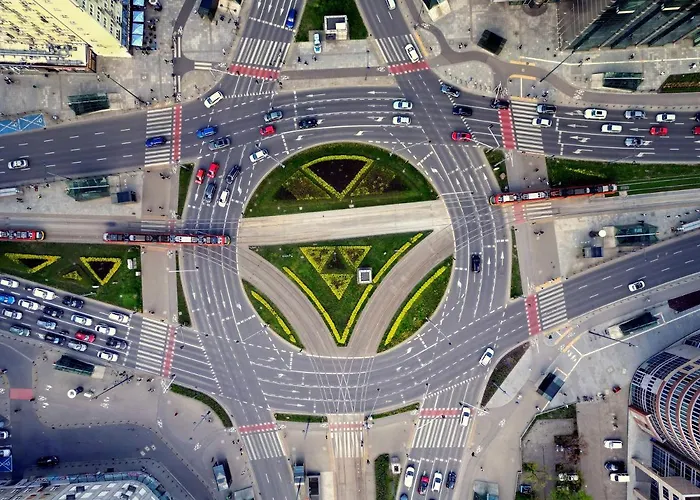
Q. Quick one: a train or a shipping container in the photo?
train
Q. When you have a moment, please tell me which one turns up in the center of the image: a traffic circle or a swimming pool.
traffic circle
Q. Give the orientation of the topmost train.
horizontally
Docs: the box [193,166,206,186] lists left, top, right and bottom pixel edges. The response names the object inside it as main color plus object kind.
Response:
red vehicle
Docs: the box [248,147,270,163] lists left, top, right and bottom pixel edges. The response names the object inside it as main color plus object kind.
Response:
white car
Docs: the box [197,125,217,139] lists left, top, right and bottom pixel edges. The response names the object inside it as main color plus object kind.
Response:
blue vehicle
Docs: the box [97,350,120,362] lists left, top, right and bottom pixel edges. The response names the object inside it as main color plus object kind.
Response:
white vehicle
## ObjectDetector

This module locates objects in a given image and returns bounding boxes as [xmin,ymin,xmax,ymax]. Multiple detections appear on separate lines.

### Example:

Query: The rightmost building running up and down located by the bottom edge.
[628,328,700,483]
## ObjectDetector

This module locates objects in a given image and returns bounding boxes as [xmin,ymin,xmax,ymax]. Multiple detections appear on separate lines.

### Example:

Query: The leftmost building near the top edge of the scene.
[0,0,131,73]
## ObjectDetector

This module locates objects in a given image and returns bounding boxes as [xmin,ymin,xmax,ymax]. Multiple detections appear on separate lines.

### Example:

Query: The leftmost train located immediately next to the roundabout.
[105,232,234,246]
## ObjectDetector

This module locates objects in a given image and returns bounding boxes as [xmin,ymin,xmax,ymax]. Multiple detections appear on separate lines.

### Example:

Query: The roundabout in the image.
[182,84,527,416]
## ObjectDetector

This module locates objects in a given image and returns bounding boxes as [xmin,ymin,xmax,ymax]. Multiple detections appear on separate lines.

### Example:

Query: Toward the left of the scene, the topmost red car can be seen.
[258,124,278,137]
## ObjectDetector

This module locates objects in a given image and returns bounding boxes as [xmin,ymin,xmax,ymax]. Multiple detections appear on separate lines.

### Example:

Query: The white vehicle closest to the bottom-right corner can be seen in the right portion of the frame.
[608,472,634,484]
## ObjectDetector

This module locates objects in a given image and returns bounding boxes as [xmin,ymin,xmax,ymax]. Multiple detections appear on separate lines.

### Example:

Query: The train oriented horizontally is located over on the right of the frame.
[485,181,615,207]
